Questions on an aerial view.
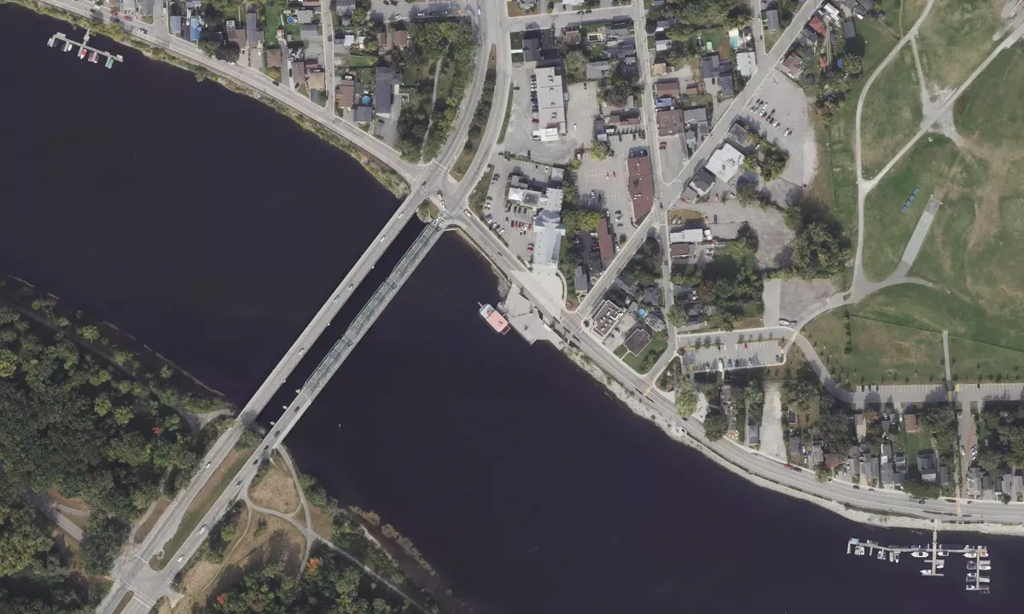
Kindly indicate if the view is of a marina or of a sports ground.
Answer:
marina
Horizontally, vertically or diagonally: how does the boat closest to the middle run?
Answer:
diagonally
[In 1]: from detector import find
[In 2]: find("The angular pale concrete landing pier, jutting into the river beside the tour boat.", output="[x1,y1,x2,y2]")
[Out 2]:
[498,284,567,353]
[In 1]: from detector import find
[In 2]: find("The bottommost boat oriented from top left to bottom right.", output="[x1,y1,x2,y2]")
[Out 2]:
[478,304,510,333]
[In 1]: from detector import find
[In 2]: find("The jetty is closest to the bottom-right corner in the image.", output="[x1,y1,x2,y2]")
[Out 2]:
[846,526,988,589]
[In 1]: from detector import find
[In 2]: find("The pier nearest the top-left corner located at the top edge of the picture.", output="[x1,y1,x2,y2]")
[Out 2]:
[52,28,125,68]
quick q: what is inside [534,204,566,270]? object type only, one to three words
building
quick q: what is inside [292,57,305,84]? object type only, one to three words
house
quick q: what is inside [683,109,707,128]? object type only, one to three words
house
